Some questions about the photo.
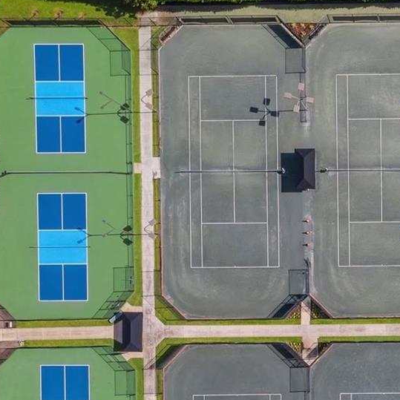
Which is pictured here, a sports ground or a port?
sports ground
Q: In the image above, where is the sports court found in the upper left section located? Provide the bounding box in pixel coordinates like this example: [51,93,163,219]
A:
[0,26,132,172]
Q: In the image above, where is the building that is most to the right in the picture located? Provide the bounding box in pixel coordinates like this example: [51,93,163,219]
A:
[294,148,315,190]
